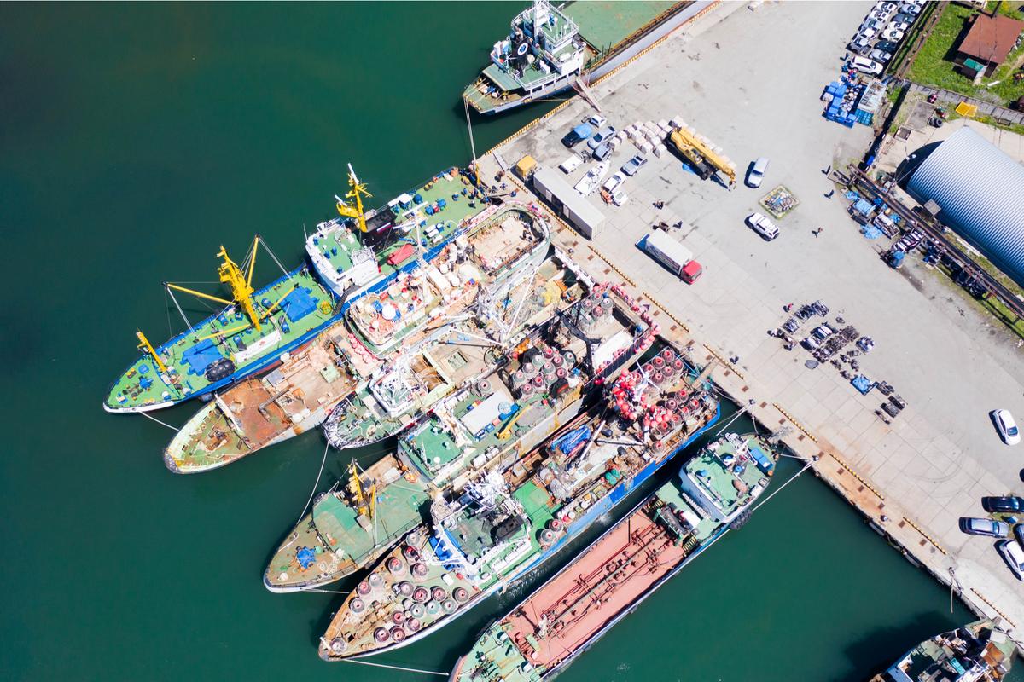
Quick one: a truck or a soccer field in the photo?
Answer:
truck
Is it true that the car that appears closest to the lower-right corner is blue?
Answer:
No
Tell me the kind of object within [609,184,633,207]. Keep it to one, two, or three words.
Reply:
car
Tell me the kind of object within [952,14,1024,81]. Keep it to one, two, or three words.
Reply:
house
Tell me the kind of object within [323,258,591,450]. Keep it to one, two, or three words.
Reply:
vessel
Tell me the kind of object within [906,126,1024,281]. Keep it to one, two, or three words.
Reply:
hangar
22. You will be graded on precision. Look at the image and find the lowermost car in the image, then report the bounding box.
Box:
[1001,540,1024,583]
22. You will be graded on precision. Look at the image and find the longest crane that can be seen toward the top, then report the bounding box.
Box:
[667,125,740,182]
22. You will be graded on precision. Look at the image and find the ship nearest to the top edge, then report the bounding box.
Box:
[468,0,743,122]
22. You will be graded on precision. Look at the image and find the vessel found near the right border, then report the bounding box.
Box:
[876,618,1017,682]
